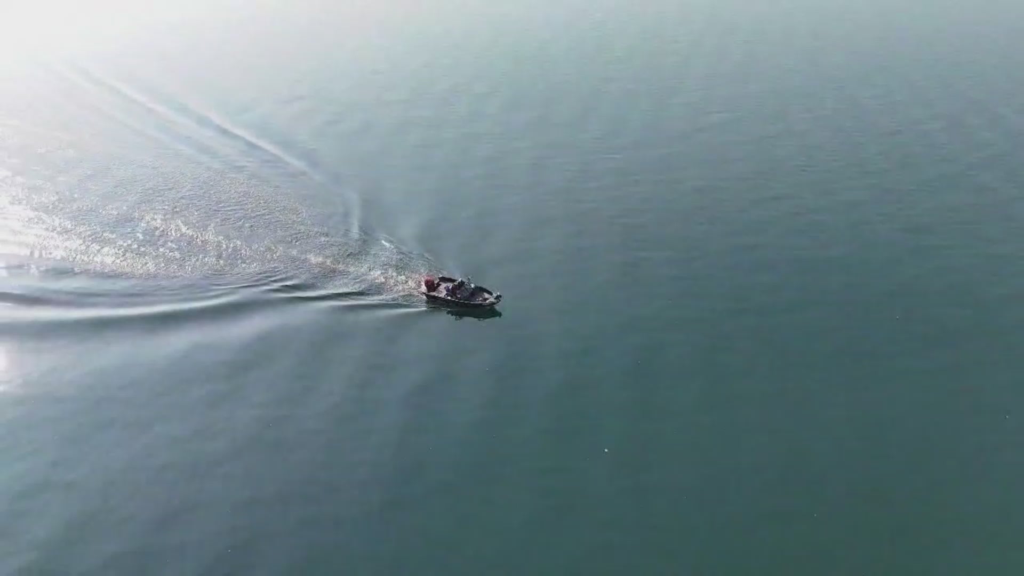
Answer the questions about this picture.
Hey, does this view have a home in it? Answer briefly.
No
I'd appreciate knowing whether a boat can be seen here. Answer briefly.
Yes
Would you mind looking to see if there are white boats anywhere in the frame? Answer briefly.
No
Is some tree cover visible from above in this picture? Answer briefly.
No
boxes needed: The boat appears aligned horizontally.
[423,274,503,310]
